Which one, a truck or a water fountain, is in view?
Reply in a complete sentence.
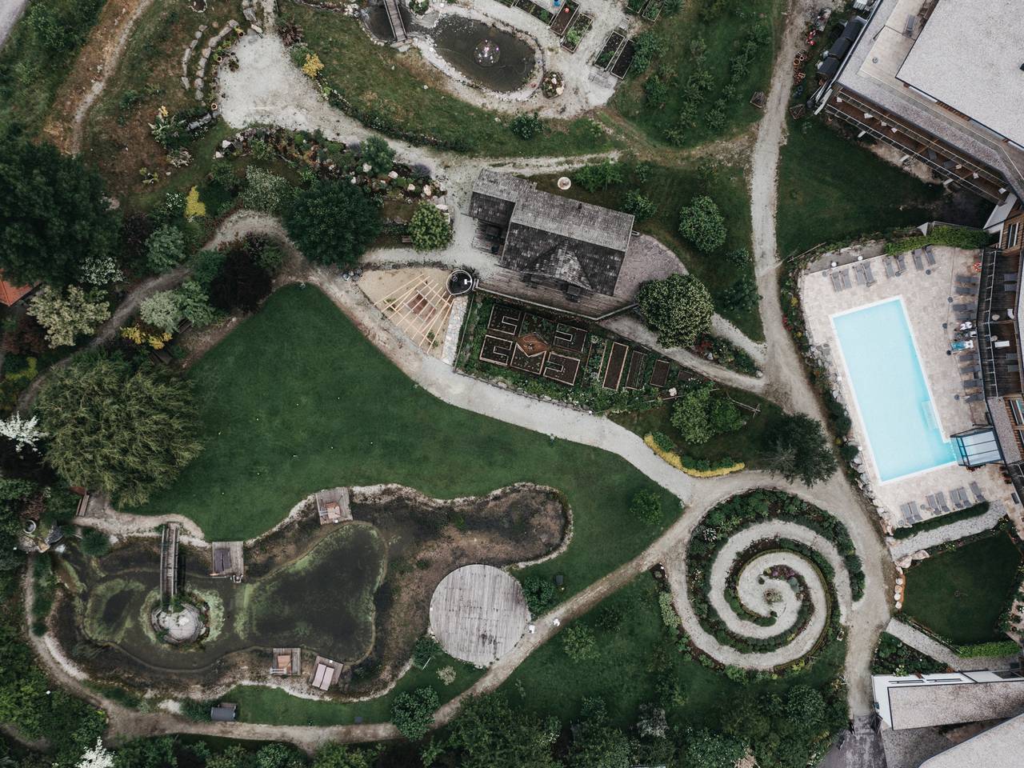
Visible in the photo is a water fountain.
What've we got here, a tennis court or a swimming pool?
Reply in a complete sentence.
Of the two, only a swimming pool appears.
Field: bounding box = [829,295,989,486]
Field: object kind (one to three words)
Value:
swimming pool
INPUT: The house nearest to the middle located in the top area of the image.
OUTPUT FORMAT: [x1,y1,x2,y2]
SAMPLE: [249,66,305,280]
[468,168,640,297]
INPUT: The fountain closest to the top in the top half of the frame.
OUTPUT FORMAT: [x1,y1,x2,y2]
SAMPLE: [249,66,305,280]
[473,40,500,67]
